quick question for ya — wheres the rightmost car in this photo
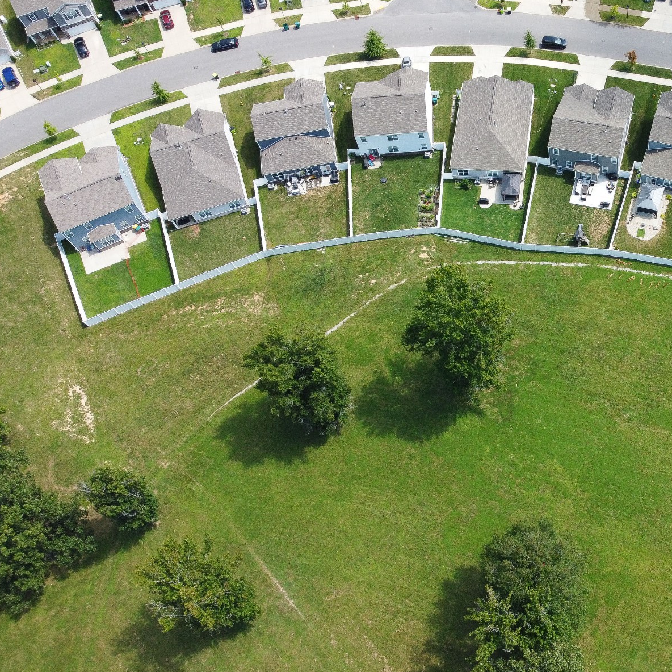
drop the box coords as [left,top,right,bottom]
[539,33,568,49]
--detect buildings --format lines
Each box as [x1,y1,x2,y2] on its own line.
[112,0,183,22]
[41,143,149,252]
[352,67,434,158]
[448,74,536,180]
[638,91,672,191]
[150,107,250,229]
[9,0,100,48]
[0,23,15,65]
[251,78,339,184]
[547,83,635,185]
